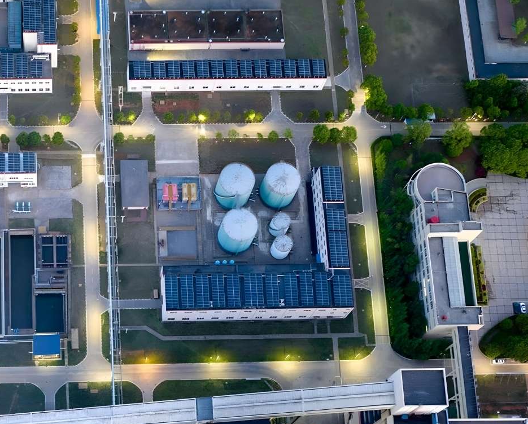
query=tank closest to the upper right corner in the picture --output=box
[260,162,301,208]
